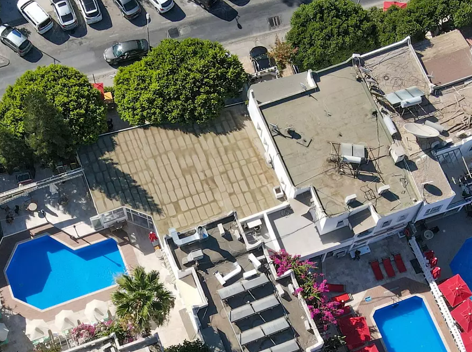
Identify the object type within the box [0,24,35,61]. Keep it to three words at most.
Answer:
car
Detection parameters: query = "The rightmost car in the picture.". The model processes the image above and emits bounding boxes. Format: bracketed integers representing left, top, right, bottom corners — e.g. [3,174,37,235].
[250,47,274,83]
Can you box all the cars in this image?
[52,0,82,33]
[0,24,35,61]
[114,0,141,22]
[103,39,149,67]
[149,0,175,15]
[16,0,56,37]
[250,47,274,83]
[76,0,103,27]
